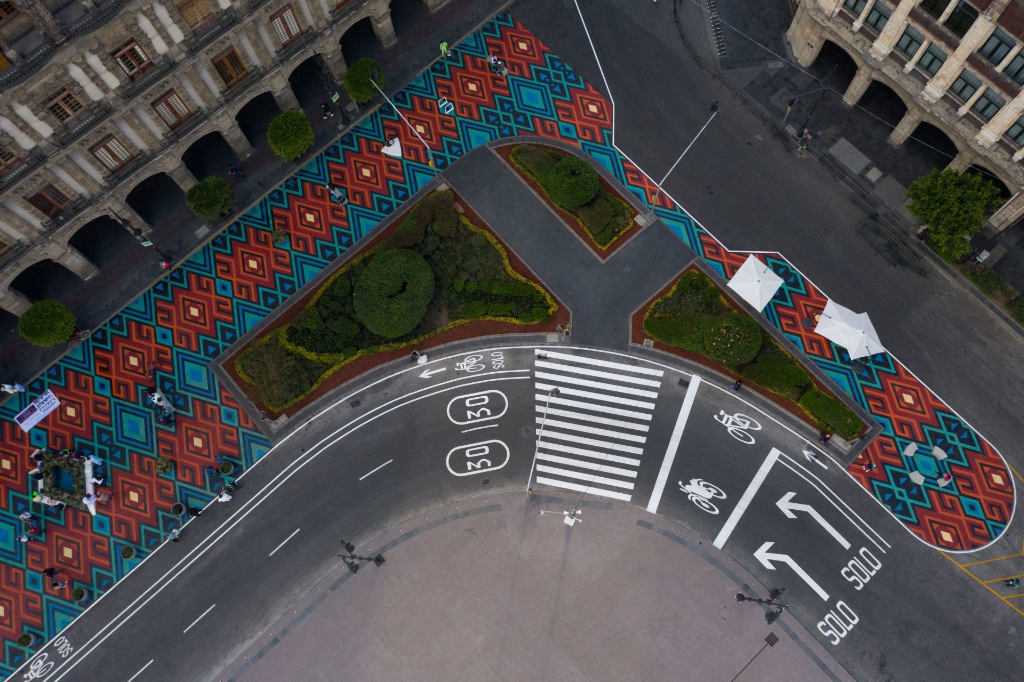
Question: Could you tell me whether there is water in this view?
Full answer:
No, the scene doesn't show any water.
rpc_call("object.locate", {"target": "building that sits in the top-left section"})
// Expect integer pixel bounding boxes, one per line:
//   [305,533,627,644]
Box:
[0,0,442,315]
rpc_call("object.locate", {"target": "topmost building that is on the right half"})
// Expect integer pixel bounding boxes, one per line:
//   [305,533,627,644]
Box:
[785,0,1024,229]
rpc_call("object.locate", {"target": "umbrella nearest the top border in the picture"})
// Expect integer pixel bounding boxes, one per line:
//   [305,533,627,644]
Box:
[726,254,784,314]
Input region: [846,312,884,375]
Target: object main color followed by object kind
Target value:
white umbrella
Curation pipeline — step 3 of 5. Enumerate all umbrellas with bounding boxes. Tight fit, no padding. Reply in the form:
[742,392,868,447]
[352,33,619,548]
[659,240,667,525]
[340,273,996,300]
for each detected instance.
[846,312,884,375]
[726,254,784,314]
[800,299,857,349]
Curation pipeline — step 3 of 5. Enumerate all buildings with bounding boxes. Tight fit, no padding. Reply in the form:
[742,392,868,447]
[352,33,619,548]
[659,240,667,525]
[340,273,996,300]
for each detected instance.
[0,0,442,315]
[785,0,1024,229]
